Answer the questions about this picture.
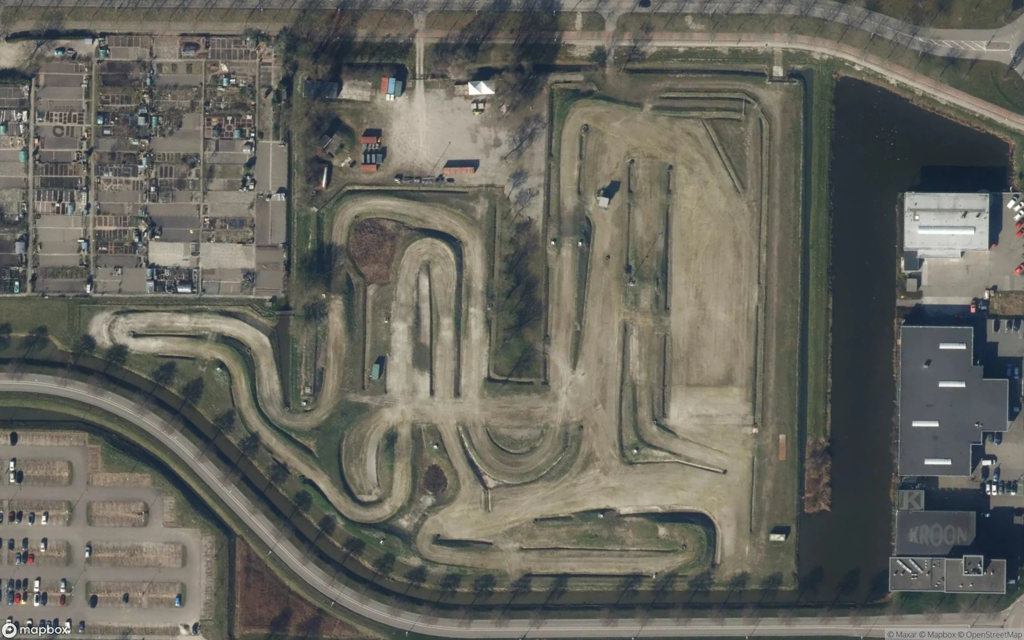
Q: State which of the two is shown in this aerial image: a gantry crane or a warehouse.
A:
warehouse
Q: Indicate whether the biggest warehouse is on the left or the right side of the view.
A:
right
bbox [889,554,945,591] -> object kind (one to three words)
building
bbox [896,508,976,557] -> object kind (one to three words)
building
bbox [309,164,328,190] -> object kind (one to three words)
barn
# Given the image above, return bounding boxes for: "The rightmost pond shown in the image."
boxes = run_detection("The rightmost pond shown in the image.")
[797,76,1009,604]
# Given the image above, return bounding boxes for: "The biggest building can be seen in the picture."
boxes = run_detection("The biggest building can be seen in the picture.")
[898,325,1008,476]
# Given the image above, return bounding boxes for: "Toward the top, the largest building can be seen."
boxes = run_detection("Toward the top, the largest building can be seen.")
[903,191,989,271]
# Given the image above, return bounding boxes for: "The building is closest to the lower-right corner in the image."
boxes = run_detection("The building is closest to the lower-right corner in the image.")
[944,548,1006,593]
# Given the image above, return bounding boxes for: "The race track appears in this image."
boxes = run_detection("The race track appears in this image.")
[87,92,771,576]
